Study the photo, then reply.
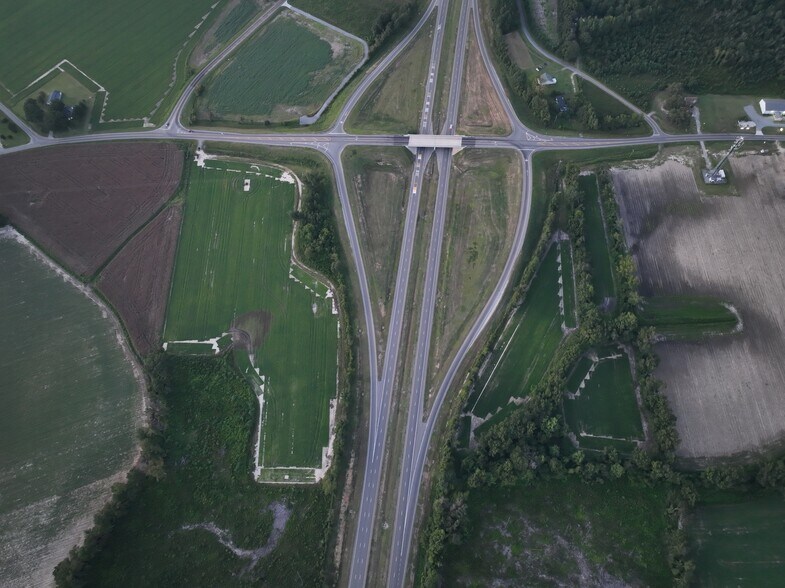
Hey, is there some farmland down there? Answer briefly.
Yes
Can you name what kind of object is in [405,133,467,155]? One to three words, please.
bridge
